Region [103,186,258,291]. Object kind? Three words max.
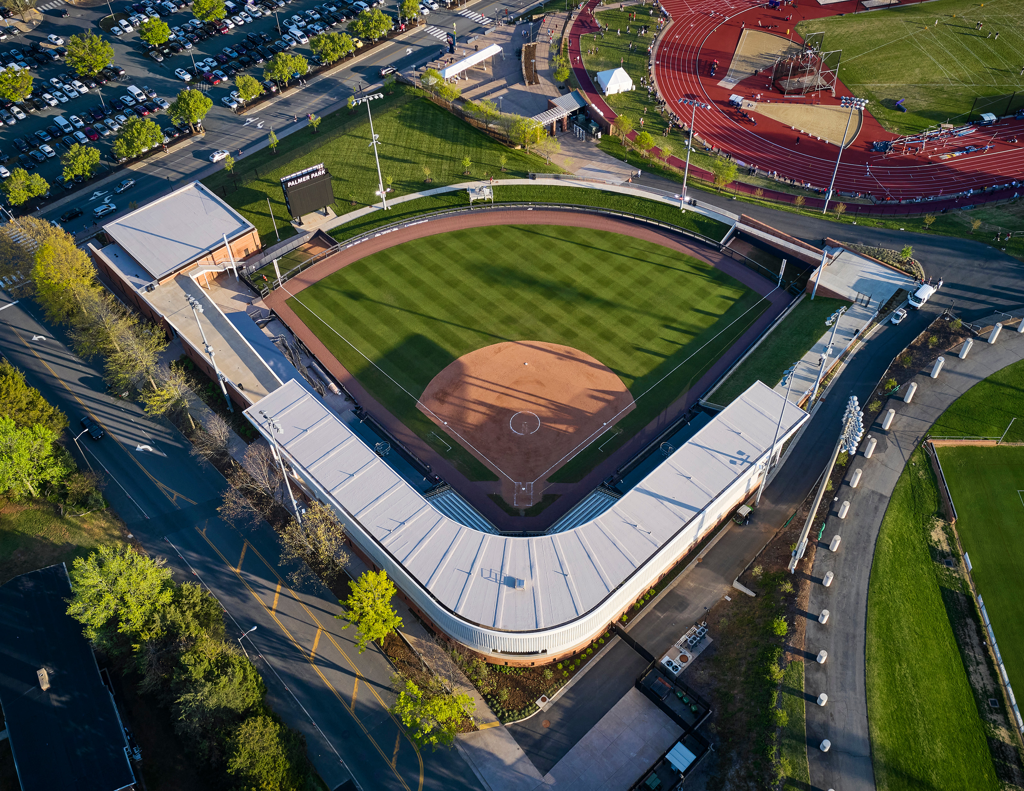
building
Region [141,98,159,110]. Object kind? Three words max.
vehicle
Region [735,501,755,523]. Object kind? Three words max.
vehicle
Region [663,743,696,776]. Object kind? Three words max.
shed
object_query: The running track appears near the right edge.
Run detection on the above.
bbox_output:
[654,0,1024,199]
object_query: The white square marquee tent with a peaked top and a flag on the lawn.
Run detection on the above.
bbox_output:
[597,62,633,94]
